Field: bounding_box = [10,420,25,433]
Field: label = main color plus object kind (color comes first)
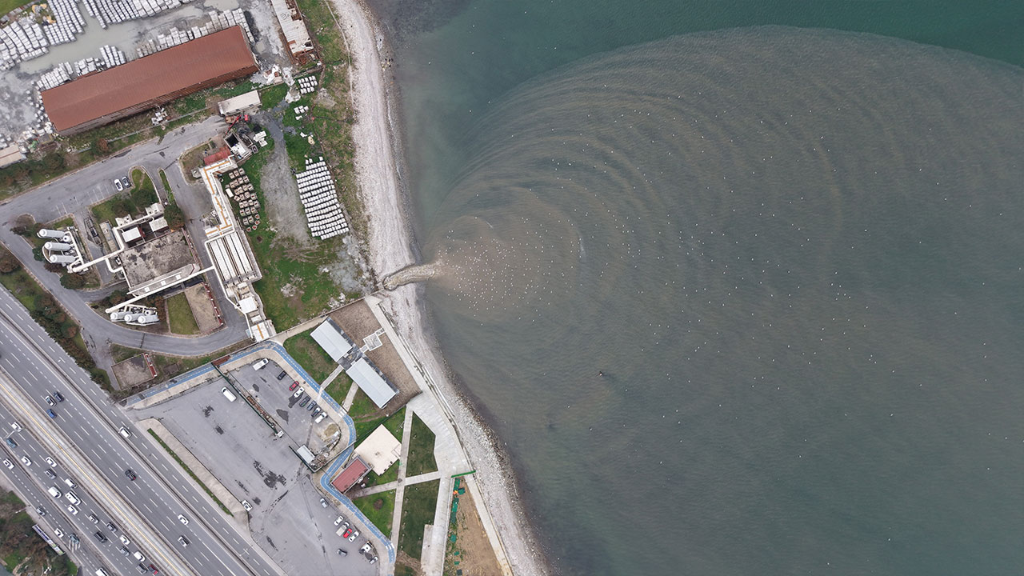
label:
white vehicle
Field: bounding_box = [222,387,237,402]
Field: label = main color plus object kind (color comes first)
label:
white vehicle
